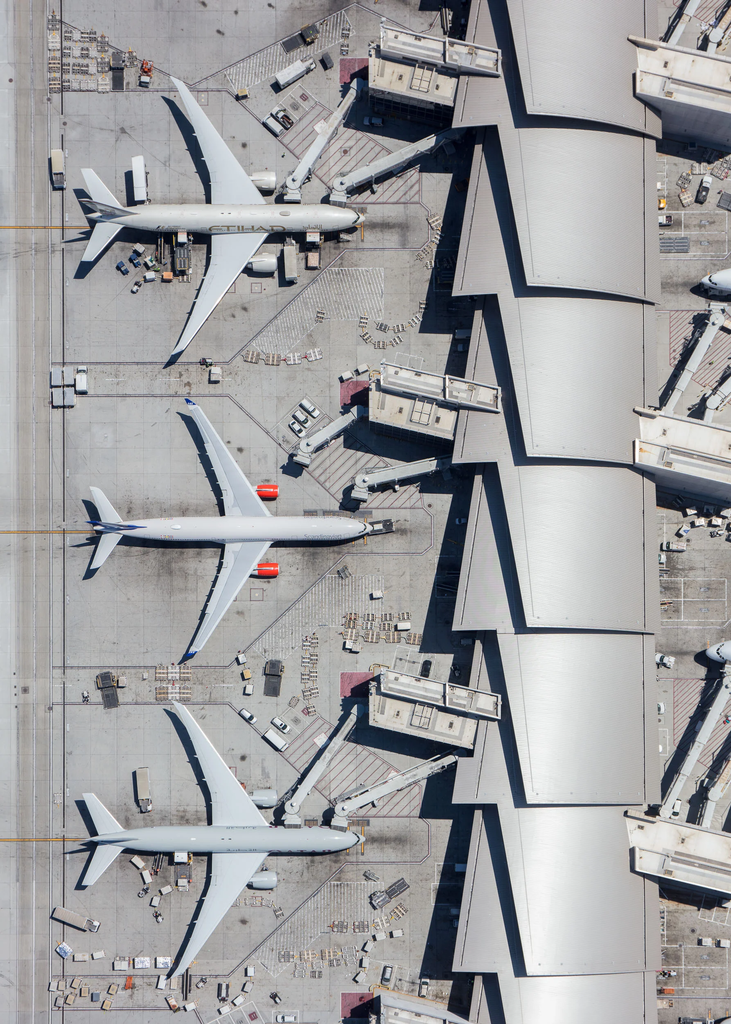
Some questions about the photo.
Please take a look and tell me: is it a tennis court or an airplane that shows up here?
airplane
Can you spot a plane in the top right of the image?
Yes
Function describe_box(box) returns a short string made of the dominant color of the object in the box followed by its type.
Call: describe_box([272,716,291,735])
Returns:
white car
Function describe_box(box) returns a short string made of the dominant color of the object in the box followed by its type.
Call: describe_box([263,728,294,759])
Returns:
white truck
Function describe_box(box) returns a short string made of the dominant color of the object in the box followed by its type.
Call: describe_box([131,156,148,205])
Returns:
white vehicle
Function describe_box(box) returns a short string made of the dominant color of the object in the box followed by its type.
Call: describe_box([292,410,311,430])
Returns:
white car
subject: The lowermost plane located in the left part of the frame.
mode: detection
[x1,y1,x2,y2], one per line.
[78,699,366,978]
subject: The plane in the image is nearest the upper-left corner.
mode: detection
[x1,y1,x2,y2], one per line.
[78,75,365,353]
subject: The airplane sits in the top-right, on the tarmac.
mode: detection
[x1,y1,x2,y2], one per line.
[701,267,731,292]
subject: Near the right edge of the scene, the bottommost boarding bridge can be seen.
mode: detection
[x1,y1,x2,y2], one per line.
[699,751,731,827]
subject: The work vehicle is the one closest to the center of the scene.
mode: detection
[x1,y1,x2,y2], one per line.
[368,518,396,536]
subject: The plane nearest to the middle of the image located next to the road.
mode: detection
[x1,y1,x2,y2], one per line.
[86,395,373,656]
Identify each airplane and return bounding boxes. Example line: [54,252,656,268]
[701,267,731,292]
[86,395,373,656]
[78,75,365,353]
[78,699,366,978]
[706,640,731,662]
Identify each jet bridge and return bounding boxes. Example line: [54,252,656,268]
[662,0,705,51]
[703,0,731,58]
[326,119,461,207]
[280,77,370,204]
[291,403,369,470]
[699,751,731,827]
[280,702,369,826]
[655,660,731,821]
[659,299,731,419]
[701,370,731,425]
[328,748,466,830]
[348,449,461,503]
